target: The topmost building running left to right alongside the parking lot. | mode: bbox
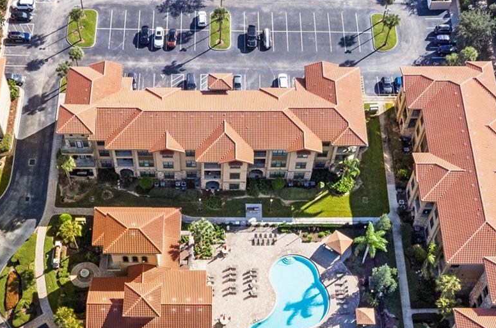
[56,59,368,190]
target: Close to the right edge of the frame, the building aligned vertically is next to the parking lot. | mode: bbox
[394,60,496,309]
